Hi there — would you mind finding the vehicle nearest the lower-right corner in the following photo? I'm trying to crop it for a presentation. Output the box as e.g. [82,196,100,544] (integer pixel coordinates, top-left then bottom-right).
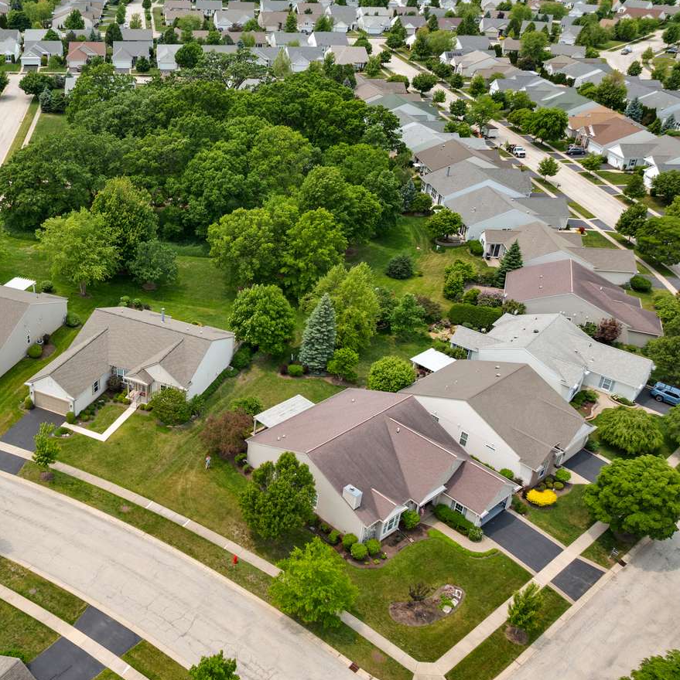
[644,377,680,399]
